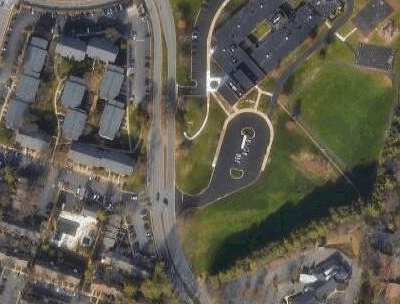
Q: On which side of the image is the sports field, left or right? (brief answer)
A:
right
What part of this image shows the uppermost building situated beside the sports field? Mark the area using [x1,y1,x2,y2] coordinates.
[207,0,334,106]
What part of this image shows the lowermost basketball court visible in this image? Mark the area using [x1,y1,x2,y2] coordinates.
[357,43,395,71]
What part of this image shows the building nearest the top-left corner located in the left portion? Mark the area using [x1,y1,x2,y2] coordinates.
[24,34,51,74]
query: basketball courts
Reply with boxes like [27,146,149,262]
[357,43,395,71]
[353,0,394,35]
